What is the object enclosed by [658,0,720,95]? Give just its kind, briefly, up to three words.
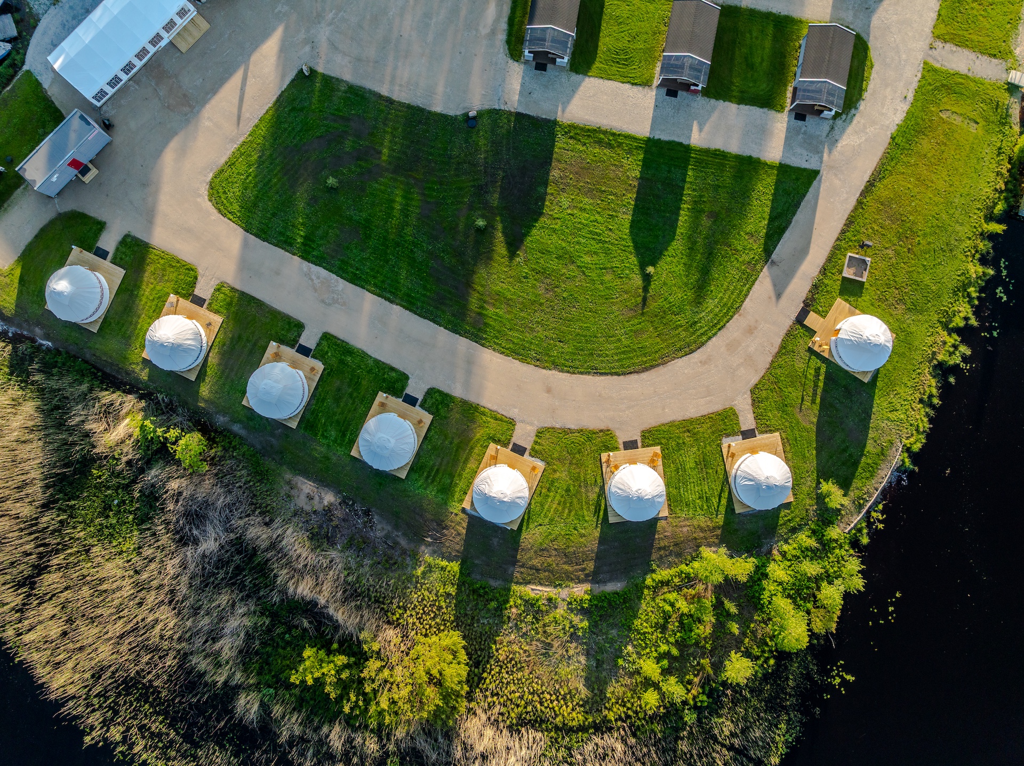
building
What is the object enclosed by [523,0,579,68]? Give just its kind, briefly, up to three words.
building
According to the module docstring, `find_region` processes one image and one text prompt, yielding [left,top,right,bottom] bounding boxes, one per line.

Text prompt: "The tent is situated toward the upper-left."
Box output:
[45,0,197,107]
